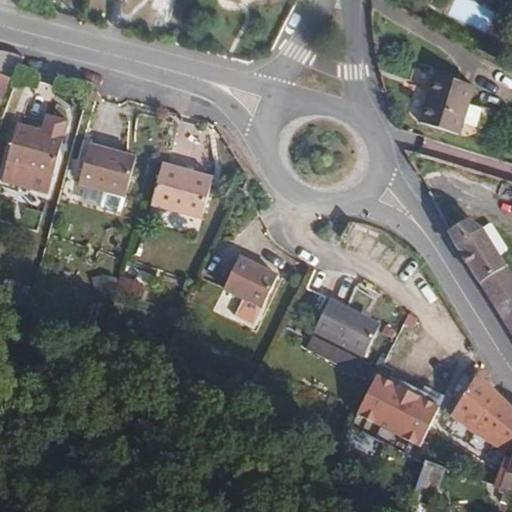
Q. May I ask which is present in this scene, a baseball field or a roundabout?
roundabout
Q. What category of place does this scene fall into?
residential area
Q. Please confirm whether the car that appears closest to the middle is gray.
Yes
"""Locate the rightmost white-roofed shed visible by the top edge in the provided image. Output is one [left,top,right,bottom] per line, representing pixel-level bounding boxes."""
[448,0,488,31]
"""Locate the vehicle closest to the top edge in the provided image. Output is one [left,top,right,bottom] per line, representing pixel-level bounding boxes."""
[284,10,302,35]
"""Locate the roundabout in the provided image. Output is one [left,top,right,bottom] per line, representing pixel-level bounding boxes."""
[279,114,369,192]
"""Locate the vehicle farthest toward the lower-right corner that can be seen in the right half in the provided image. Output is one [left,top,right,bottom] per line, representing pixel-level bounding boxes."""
[416,276,438,304]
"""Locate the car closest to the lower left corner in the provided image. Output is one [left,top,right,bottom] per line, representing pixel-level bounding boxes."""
[206,253,222,274]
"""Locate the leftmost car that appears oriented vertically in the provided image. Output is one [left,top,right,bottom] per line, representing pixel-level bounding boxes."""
[32,96,44,118]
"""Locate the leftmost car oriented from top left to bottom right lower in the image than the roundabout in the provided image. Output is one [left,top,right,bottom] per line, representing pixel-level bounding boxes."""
[266,250,287,270]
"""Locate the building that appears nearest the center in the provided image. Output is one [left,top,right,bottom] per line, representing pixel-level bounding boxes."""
[224,254,278,308]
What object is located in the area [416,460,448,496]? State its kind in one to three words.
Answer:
shed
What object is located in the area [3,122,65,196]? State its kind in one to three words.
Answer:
house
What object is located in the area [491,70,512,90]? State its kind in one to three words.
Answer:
vehicle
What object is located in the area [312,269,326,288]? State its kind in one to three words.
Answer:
vehicle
